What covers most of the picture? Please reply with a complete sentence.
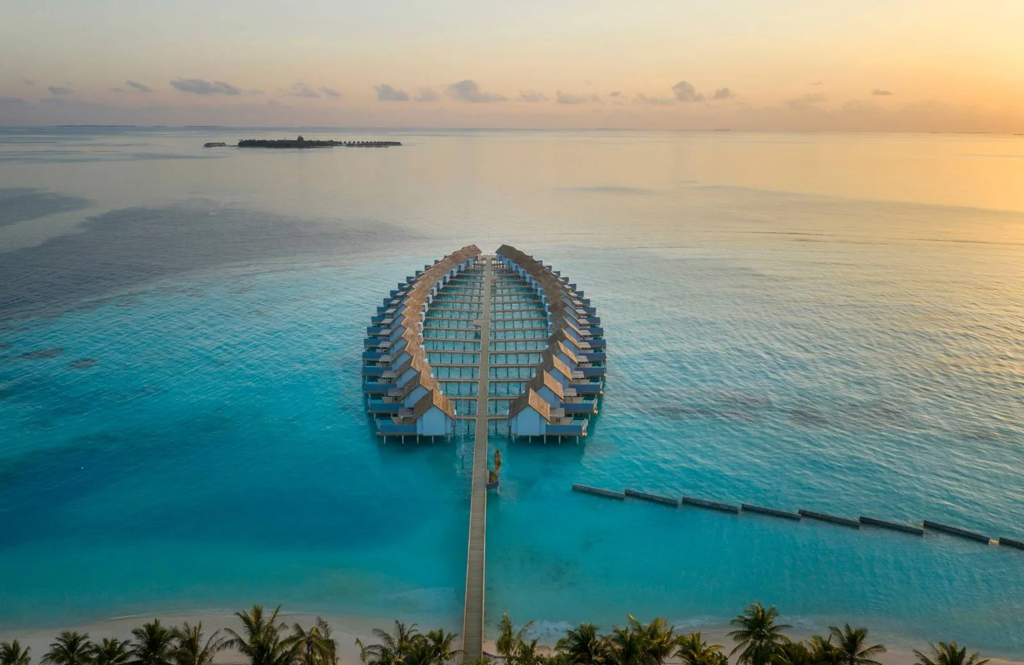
The scene is dominated by water.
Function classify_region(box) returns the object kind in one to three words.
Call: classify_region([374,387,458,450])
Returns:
house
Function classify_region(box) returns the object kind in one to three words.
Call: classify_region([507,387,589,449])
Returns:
house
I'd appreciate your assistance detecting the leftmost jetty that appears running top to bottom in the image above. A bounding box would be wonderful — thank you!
[462,254,499,665]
